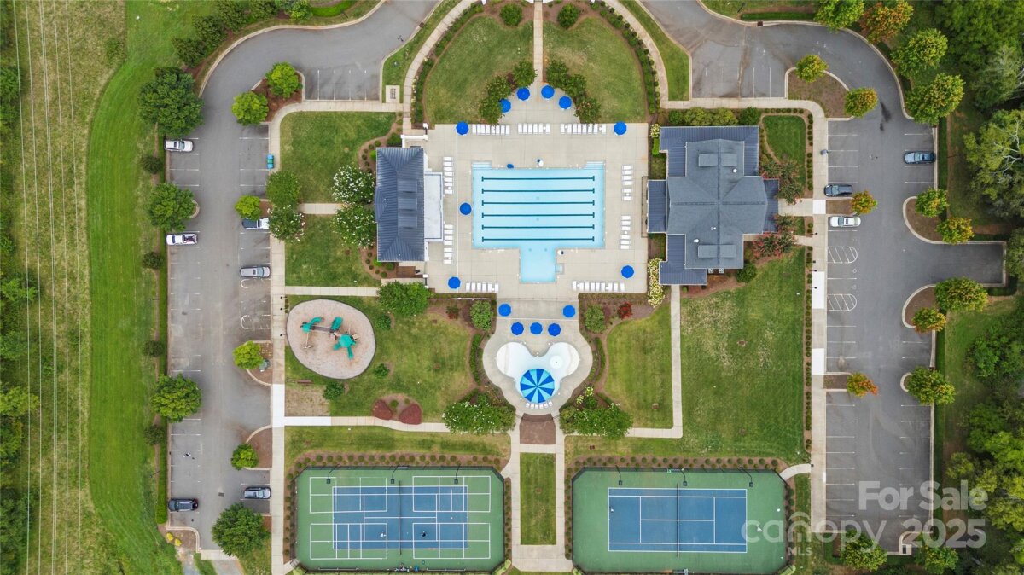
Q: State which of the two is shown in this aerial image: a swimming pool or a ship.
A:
swimming pool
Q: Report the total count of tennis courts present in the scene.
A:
2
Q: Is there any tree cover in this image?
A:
Yes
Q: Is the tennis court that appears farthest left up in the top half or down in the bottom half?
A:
bottom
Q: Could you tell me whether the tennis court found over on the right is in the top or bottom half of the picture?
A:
bottom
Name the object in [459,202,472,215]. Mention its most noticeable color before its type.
blue umbrella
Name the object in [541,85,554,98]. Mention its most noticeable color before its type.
blue umbrella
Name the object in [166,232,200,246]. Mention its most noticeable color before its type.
white vehicle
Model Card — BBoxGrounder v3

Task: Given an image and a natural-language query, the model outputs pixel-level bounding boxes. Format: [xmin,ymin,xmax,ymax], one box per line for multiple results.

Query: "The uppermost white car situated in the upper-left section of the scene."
[163,139,195,152]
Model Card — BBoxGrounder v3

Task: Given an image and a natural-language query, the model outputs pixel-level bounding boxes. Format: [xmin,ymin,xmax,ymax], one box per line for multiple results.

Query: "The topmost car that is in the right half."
[904,150,936,164]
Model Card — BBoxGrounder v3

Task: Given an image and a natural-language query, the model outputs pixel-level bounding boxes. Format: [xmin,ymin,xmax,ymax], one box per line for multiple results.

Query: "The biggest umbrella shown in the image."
[520,370,555,404]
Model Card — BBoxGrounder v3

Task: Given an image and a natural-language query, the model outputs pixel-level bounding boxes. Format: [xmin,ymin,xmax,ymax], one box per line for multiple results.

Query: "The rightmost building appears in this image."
[648,126,779,285]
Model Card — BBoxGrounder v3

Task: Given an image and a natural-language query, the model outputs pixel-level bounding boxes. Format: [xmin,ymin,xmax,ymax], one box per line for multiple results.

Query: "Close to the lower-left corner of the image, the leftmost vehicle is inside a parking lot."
[169,498,199,512]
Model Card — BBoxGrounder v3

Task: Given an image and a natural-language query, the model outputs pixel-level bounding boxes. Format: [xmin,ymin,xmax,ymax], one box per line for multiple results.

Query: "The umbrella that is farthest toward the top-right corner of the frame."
[614,121,627,134]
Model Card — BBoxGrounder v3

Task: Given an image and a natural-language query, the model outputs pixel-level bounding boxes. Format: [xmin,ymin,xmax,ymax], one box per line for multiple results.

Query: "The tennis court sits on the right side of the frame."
[574,472,786,573]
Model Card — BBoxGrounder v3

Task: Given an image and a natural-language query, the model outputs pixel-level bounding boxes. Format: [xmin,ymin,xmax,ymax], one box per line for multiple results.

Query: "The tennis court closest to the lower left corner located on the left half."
[296,471,503,571]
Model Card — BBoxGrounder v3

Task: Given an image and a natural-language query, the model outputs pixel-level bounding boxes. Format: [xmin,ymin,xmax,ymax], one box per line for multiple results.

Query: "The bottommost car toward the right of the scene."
[830,215,861,228]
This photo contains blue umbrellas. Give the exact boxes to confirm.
[541,85,554,98]
[459,202,472,215]
[548,323,561,336]
[511,322,524,335]
[448,276,461,289]
[455,122,468,134]
[517,87,530,100]
[621,265,634,278]
[530,322,543,335]
[498,303,511,316]
[614,121,627,134]
[499,99,511,112]
[563,305,576,318]
[559,96,572,109]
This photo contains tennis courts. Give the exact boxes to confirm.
[296,471,503,571]
[574,472,786,573]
